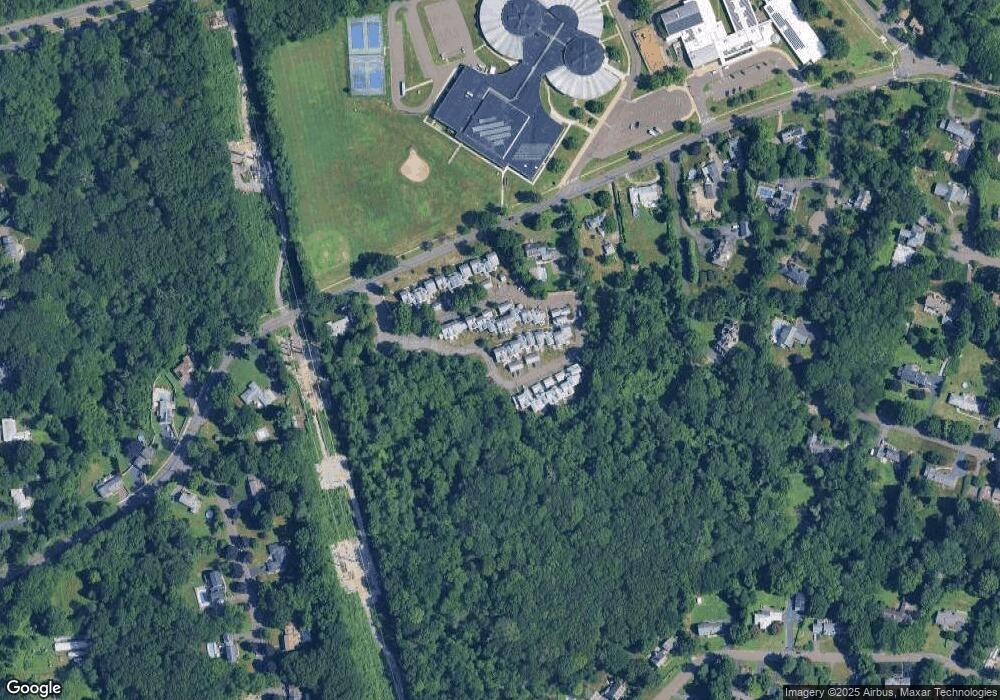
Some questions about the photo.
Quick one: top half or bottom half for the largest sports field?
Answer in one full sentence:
The largest sports field is in the top half of the image.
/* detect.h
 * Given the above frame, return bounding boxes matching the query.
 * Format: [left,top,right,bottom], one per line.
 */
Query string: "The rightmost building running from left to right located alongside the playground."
[660,0,827,75]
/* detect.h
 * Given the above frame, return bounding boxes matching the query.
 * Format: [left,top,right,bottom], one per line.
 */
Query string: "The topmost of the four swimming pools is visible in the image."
[756,186,775,199]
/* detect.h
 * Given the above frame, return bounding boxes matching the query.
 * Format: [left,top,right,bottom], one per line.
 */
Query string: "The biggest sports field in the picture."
[272,21,502,288]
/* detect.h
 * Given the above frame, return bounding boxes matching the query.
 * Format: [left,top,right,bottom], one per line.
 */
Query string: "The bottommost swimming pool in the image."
[195,586,209,609]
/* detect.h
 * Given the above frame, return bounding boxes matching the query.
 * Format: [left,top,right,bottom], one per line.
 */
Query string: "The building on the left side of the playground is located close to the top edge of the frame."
[434,0,623,183]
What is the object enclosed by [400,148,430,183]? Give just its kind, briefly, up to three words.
baseball field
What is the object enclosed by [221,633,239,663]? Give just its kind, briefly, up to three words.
house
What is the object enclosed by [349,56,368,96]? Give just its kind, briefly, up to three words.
tennis court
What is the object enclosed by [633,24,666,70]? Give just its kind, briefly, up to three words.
playground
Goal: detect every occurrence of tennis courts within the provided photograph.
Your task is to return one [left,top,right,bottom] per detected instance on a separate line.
[347,16,366,56]
[366,55,386,95]
[349,56,368,96]
[365,15,384,55]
